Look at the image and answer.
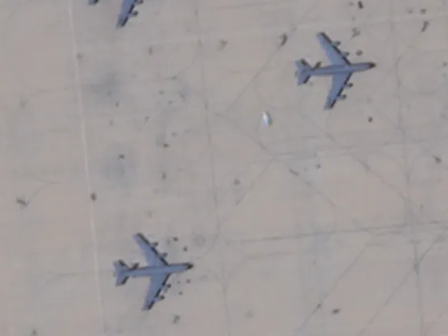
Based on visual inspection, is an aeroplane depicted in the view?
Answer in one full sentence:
Yes, there is an aeroplane in the image.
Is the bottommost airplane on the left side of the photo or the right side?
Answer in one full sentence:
It is on the left.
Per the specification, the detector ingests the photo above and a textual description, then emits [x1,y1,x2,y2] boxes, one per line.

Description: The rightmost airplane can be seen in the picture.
[297,33,373,109]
